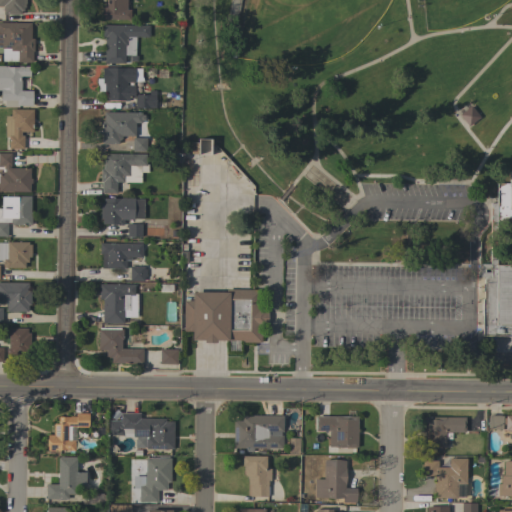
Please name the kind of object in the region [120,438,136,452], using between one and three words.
swimming pool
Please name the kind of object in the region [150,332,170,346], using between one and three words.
swimming pool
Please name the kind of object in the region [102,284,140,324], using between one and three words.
house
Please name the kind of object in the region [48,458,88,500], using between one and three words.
house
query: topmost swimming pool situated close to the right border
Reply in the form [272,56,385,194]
[490,432,502,453]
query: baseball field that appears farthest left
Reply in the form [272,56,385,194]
[232,0,390,64]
